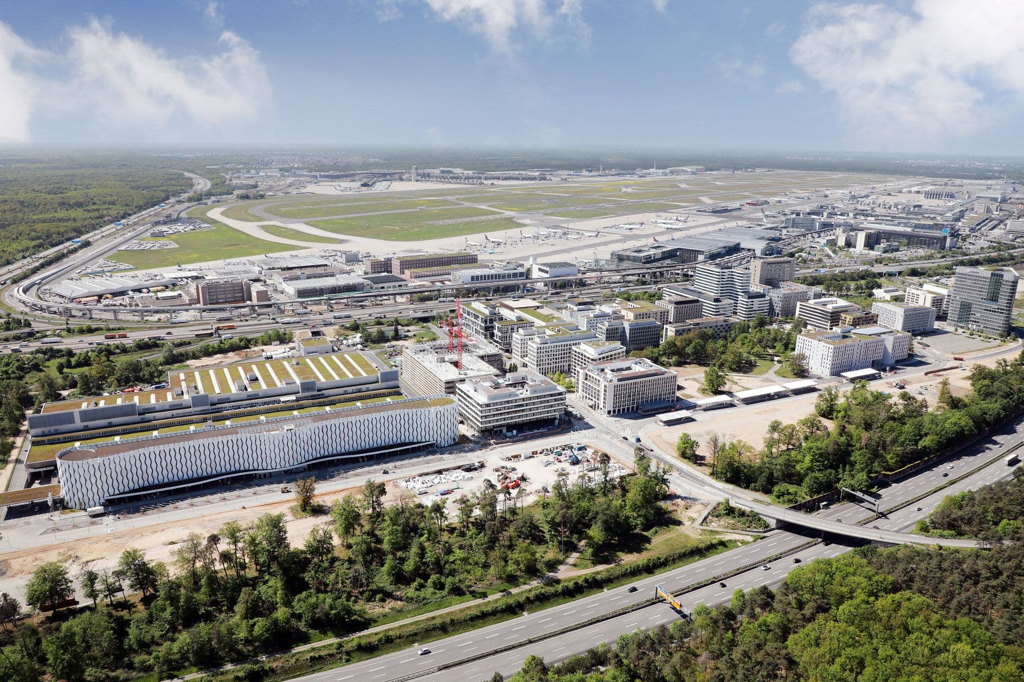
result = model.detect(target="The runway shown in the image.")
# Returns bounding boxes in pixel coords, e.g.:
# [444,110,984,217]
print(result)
[240,172,878,226]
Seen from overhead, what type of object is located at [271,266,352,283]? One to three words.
building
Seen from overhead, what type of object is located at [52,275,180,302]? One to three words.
building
